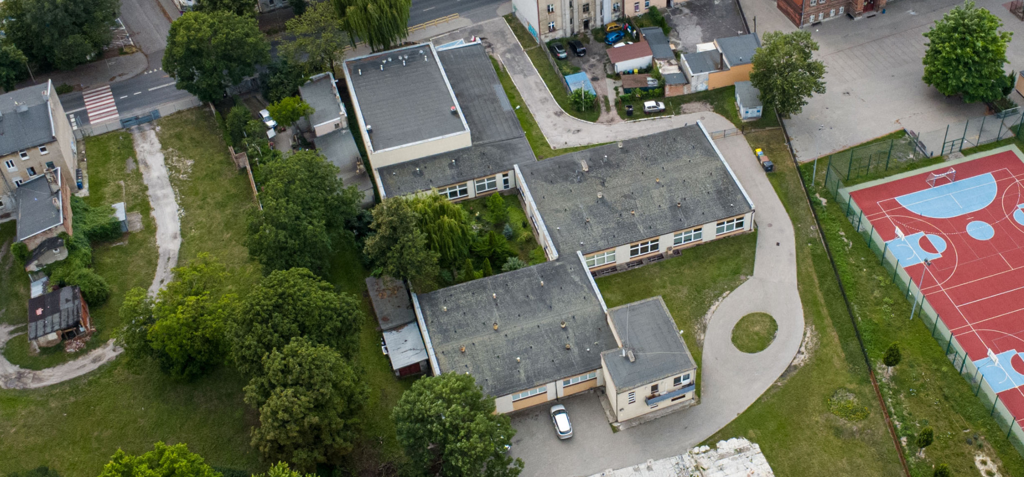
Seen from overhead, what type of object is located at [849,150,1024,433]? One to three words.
sports court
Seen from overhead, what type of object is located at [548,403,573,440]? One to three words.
car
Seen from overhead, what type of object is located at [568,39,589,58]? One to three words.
car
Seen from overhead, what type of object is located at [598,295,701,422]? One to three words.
house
